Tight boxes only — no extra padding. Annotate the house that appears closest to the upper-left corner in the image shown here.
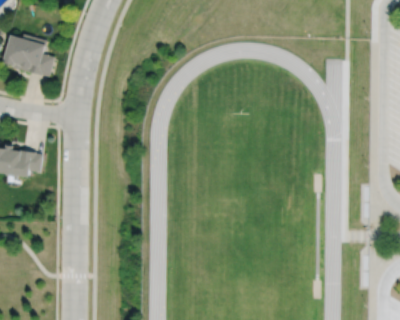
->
[4,34,53,80]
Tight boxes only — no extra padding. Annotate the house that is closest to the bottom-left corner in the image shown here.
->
[0,145,42,178]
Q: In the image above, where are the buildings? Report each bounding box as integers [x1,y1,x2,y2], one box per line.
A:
[0,145,42,178]
[4,34,53,80]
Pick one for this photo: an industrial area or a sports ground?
sports ground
